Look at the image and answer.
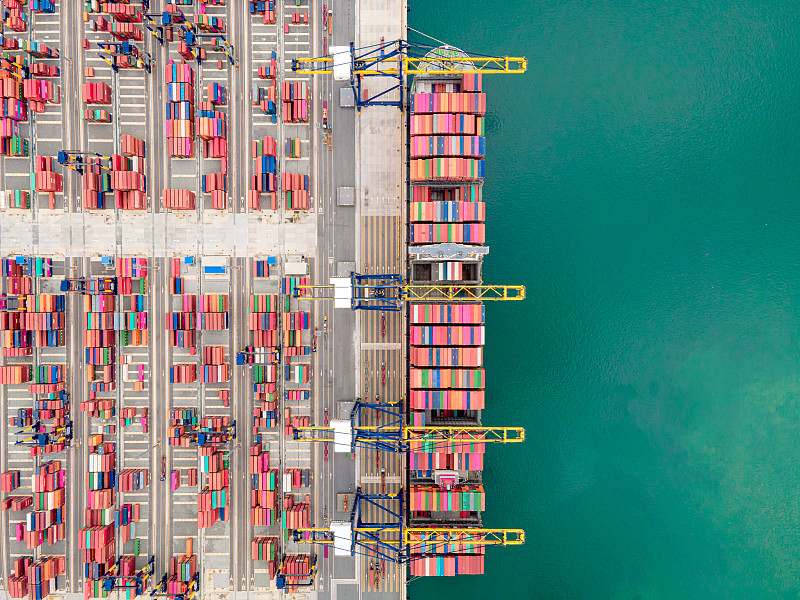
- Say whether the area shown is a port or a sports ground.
port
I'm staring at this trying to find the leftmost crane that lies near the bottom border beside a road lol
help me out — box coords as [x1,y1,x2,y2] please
[102,552,155,587]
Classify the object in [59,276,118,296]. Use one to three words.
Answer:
crane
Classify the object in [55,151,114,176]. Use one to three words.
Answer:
crane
